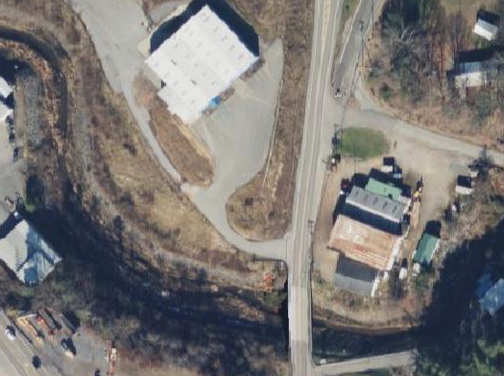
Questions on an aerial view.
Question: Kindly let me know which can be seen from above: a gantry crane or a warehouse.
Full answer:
It is a warehouse that can be seen here.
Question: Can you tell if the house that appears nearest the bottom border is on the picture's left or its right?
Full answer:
You can find the house that appears nearest the bottom border on the right side of the picture.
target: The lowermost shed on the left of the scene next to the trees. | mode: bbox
[0,220,63,283]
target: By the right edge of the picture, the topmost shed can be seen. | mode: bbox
[472,15,499,40]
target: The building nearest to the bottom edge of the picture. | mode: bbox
[478,279,504,314]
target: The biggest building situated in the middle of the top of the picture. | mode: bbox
[144,4,264,124]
